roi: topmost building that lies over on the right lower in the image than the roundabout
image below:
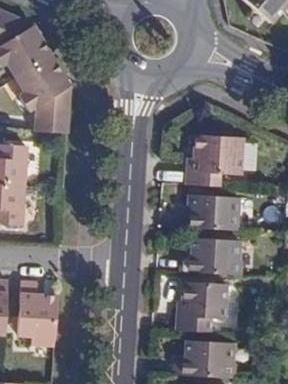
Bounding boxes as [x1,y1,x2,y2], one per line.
[184,135,257,187]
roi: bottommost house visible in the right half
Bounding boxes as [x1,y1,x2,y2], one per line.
[182,341,238,378]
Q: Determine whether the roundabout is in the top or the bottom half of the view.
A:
top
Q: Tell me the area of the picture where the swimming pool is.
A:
right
